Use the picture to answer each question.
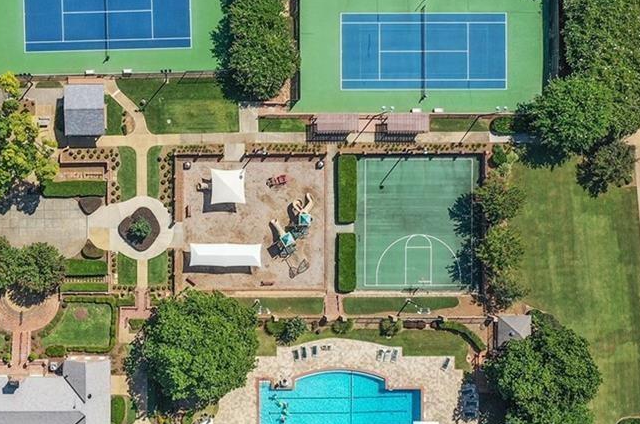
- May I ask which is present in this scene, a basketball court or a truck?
basketball court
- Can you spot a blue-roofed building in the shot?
No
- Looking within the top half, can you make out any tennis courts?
Yes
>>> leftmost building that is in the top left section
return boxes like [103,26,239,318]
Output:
[62,84,104,136]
